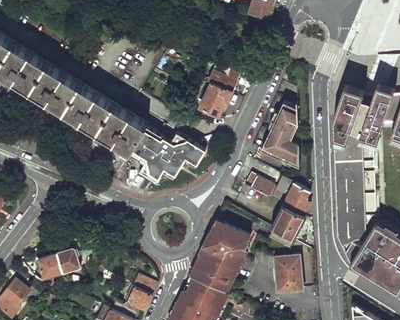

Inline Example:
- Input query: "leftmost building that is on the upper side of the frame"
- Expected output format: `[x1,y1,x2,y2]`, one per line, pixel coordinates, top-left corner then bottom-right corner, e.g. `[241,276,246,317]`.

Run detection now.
[0,36,148,162]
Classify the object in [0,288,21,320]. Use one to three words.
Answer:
house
